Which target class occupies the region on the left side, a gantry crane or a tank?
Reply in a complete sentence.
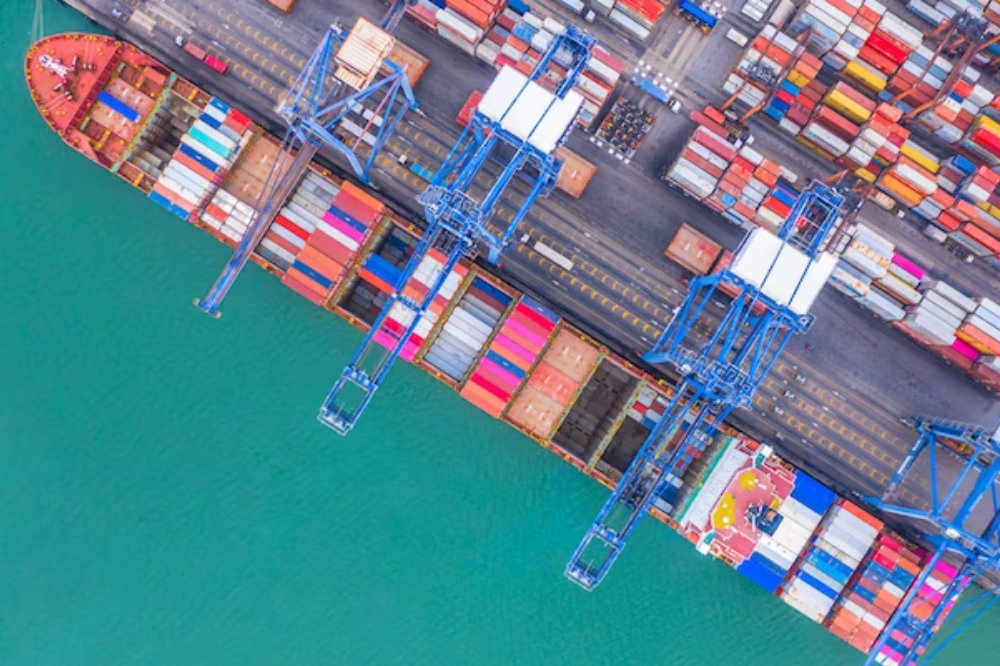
There is a gantry crane on the left side.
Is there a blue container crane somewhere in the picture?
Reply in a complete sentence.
Yes, this view includes a blue container crane.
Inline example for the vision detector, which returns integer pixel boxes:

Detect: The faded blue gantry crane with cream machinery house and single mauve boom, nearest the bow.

[191,0,433,324]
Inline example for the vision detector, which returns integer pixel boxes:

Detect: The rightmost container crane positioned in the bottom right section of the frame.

[849,399,1000,666]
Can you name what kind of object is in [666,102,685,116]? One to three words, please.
vehicle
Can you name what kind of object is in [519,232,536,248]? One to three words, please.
vehicle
